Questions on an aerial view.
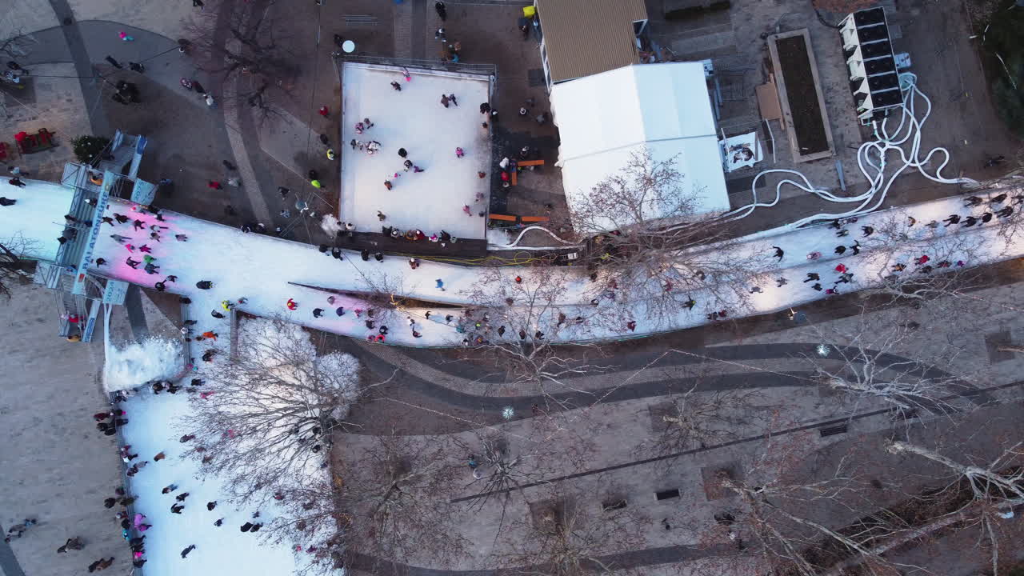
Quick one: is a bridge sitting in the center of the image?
No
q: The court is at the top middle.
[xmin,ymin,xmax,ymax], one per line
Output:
[339,63,489,240]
